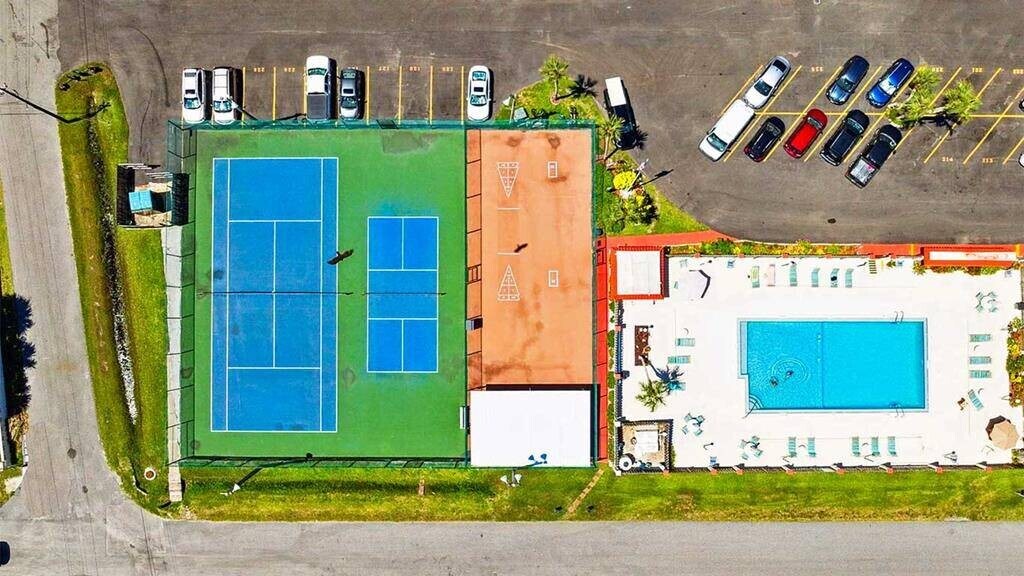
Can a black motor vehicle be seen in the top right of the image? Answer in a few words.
Yes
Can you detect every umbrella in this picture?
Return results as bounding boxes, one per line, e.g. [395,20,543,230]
[983,418,1016,447]
[680,270,711,301]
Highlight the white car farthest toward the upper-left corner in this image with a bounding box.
[180,67,211,121]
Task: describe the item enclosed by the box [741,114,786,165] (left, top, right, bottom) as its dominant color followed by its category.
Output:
black car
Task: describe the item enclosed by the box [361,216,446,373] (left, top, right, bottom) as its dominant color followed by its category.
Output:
blue sports court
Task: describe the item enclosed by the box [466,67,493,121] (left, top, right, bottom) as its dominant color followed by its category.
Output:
white car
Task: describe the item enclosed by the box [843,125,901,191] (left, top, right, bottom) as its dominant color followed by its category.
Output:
black truck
